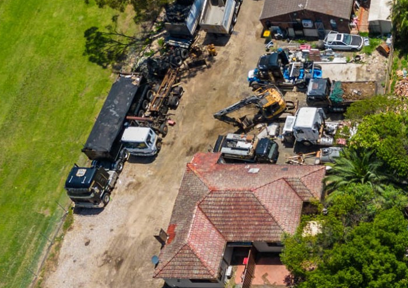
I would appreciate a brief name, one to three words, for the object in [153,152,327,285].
house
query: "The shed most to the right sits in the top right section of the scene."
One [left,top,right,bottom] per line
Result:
[363,0,394,38]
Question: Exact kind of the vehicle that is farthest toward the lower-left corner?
truck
